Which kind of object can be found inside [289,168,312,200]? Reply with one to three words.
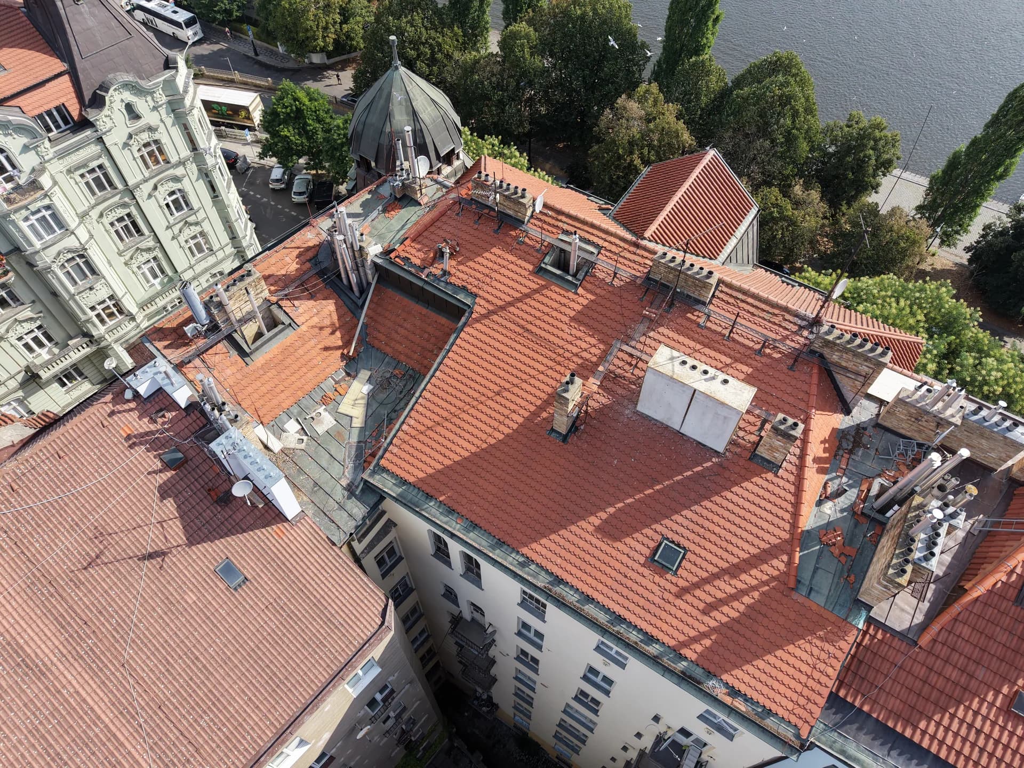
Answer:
car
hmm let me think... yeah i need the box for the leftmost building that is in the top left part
[0,0,264,414]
